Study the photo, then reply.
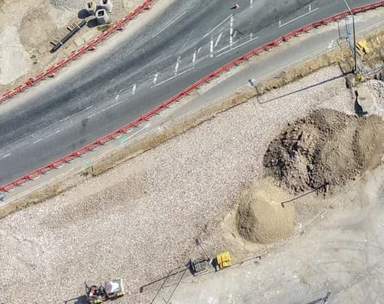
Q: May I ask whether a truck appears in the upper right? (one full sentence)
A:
No, there's no truck to be seen in the upper right.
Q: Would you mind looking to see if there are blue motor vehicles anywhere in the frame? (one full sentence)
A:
No, no blue motor vehicle is visible in the view.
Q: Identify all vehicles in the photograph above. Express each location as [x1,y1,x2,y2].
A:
[197,247,232,275]
[86,277,122,304]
